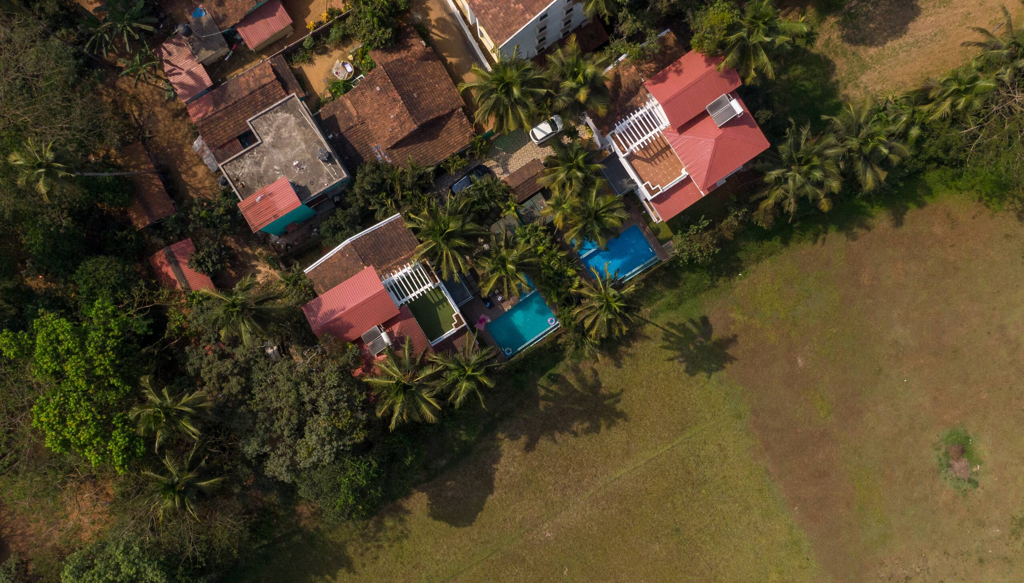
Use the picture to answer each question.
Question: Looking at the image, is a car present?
Yes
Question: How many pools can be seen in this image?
2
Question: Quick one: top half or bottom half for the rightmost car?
top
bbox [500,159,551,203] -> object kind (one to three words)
shed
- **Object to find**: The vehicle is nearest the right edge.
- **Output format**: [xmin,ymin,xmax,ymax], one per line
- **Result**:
[527,116,563,146]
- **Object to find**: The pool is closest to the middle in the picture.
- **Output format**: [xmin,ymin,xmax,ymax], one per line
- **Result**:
[484,275,559,360]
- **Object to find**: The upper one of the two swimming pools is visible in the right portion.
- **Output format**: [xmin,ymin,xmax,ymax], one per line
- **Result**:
[572,223,661,294]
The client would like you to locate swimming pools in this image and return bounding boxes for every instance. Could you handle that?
[484,275,559,360]
[572,223,661,294]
